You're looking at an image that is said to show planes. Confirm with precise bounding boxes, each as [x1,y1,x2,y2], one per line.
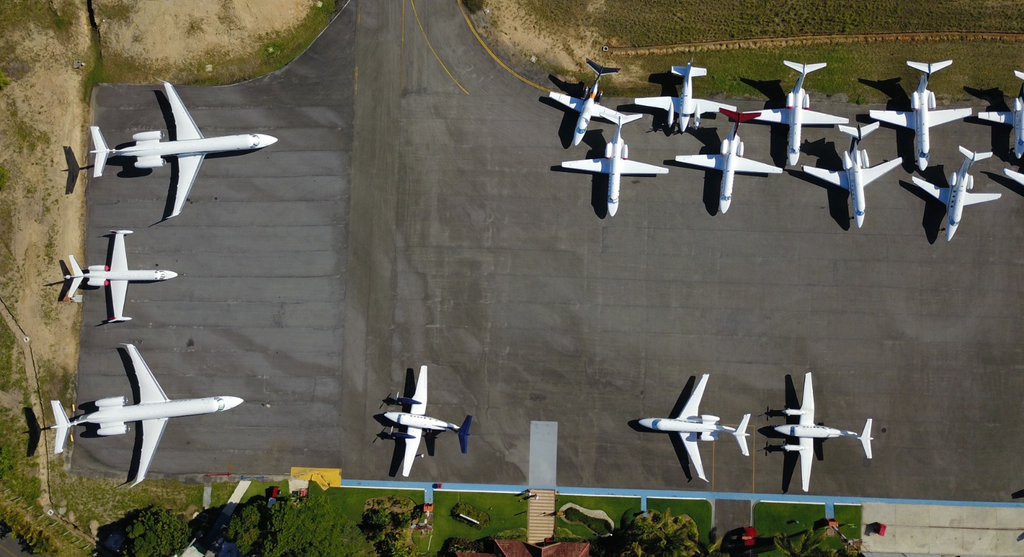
[805,122,907,228]
[774,372,874,491]
[743,60,850,167]
[677,107,783,213]
[1004,164,1024,187]
[66,232,178,319]
[915,146,1004,241]
[549,58,626,145]
[384,364,473,476]
[562,111,669,216]
[639,375,752,483]
[870,59,973,170]
[635,57,738,131]
[50,346,244,486]
[975,69,1024,158]
[86,78,278,219]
